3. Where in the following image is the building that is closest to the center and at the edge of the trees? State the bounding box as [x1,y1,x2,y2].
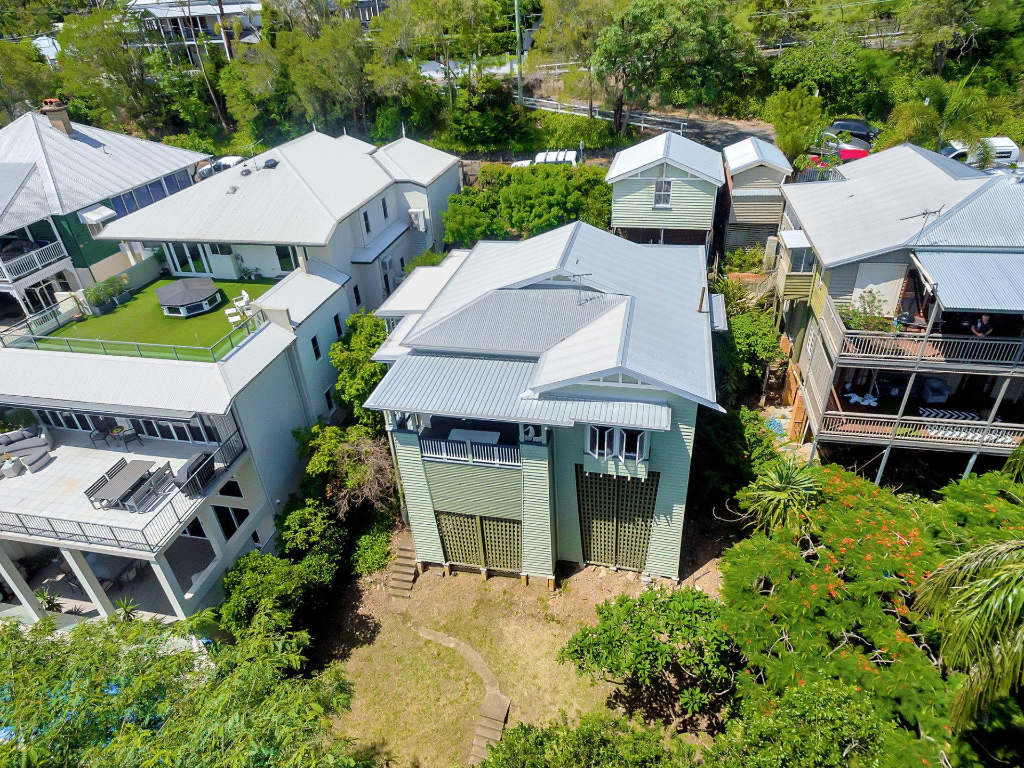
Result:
[357,216,737,591]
